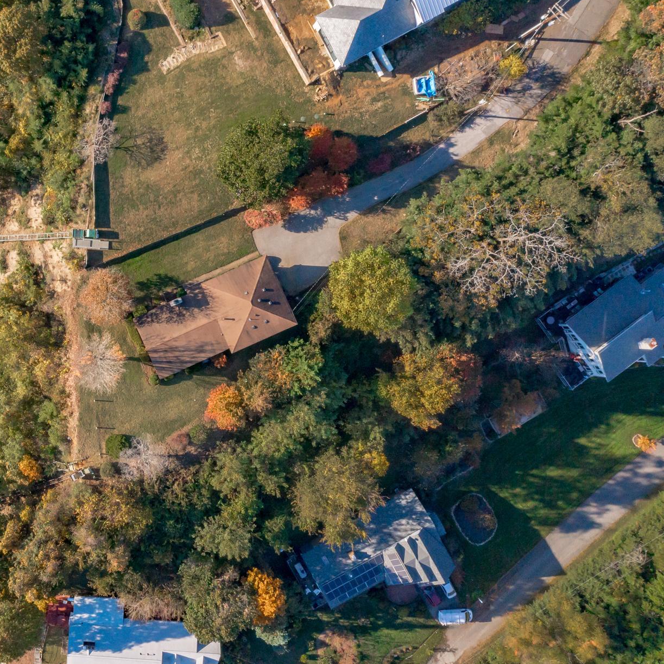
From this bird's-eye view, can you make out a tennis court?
No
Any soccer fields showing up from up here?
No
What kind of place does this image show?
residential area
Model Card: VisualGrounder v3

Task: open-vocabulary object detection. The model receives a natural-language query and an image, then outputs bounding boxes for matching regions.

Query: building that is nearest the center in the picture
[135,255,298,380]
